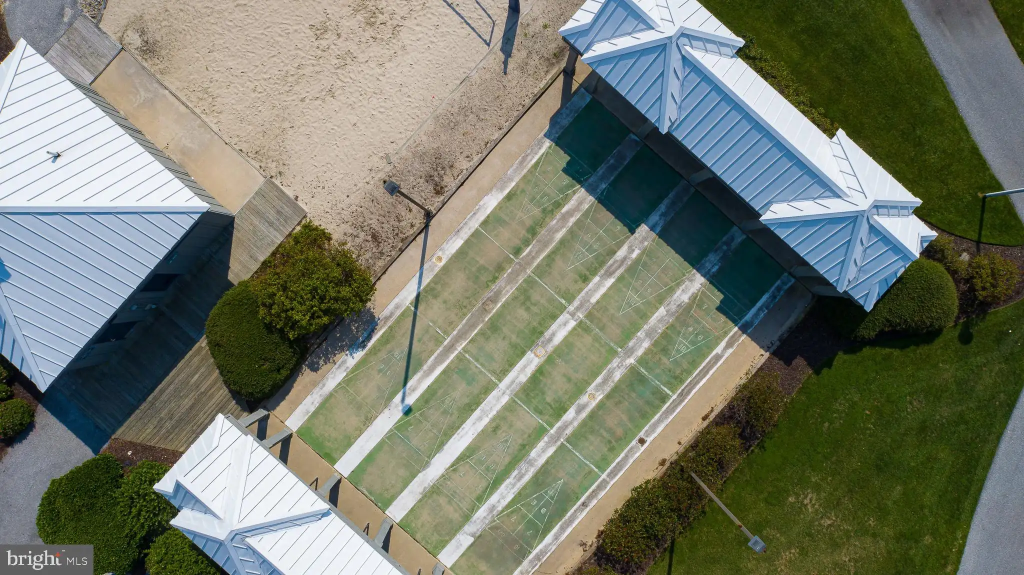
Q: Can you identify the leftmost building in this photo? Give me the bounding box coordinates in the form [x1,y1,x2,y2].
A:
[0,40,232,391]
